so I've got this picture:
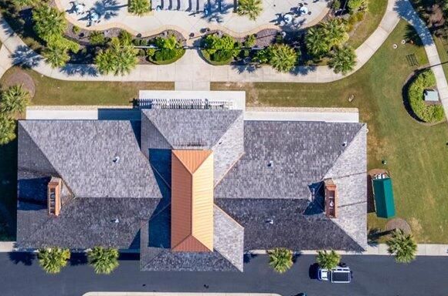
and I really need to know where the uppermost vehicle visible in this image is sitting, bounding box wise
[318,265,353,284]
